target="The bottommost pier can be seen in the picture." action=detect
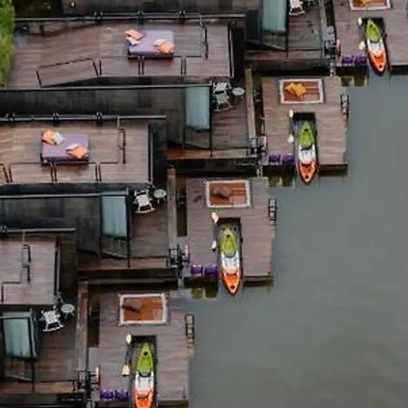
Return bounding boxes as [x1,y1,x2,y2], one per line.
[85,290,187,408]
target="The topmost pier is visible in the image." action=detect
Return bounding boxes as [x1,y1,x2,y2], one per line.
[328,0,408,76]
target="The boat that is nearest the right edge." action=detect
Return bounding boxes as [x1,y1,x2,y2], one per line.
[365,16,388,78]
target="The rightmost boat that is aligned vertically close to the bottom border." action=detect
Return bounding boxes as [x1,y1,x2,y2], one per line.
[131,340,155,408]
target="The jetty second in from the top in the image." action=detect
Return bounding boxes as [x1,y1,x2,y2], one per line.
[255,75,348,175]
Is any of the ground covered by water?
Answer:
Yes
